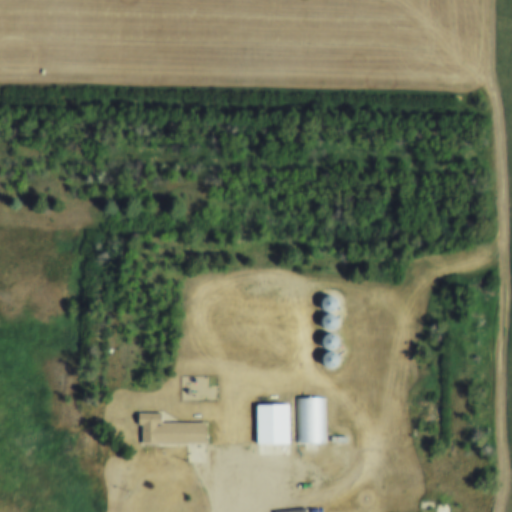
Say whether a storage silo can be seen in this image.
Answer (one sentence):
Yes, there is a storage silo in the image.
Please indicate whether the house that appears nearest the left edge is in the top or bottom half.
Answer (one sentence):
It is in the bottom half that the house that appears nearest the left edge appears.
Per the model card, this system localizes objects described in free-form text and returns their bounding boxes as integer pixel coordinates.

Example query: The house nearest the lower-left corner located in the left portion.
[139,413,208,446]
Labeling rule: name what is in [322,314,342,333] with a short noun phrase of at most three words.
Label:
silo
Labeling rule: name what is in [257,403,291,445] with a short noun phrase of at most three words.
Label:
barn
